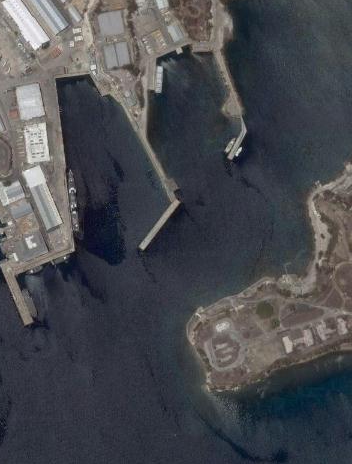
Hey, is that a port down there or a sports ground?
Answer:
port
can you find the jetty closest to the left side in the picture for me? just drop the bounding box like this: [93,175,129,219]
[0,259,33,326]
